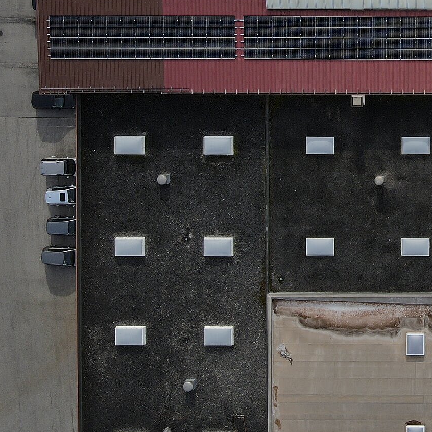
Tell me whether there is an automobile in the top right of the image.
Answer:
No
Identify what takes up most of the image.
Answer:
buildings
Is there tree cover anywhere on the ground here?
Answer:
No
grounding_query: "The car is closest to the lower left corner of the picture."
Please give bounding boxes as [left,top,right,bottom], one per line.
[40,242,78,265]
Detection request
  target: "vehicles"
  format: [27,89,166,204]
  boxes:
[40,242,78,265]
[38,153,78,179]
[27,92,78,115]
[45,214,78,235]
[44,185,78,206]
